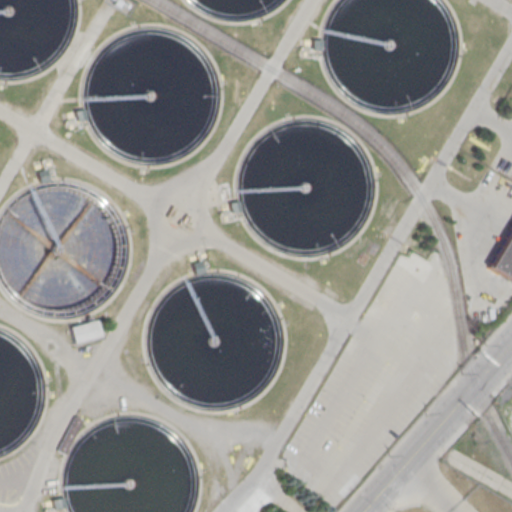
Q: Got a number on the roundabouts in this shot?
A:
none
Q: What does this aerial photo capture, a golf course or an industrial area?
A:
industrial area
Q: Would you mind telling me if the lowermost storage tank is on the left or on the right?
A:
left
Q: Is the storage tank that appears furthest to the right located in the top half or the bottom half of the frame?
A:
top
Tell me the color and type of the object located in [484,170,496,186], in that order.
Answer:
white vehicle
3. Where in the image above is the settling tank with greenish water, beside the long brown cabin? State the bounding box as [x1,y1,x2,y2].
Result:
[58,411,204,512]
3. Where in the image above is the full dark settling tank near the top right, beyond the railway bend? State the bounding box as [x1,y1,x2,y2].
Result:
[319,0,462,118]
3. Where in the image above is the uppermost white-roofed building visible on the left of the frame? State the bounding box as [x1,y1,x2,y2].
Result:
[73,320,106,345]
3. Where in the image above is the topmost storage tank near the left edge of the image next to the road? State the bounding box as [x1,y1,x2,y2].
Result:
[0,0,82,85]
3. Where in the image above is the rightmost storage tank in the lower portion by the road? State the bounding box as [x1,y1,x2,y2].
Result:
[142,268,287,415]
